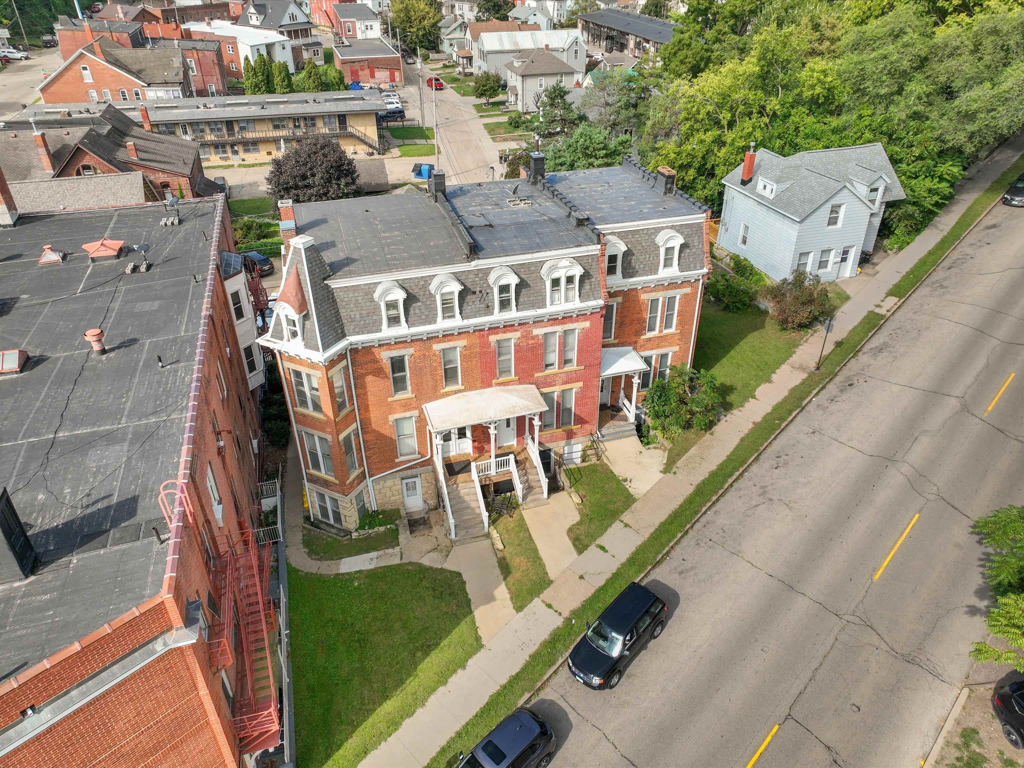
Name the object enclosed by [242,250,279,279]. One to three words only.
car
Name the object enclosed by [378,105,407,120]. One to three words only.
car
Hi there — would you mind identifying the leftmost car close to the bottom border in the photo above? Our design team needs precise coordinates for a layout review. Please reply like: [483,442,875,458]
[448,696,557,768]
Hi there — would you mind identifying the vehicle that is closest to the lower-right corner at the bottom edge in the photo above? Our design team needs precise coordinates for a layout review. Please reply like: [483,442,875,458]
[992,680,1024,758]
